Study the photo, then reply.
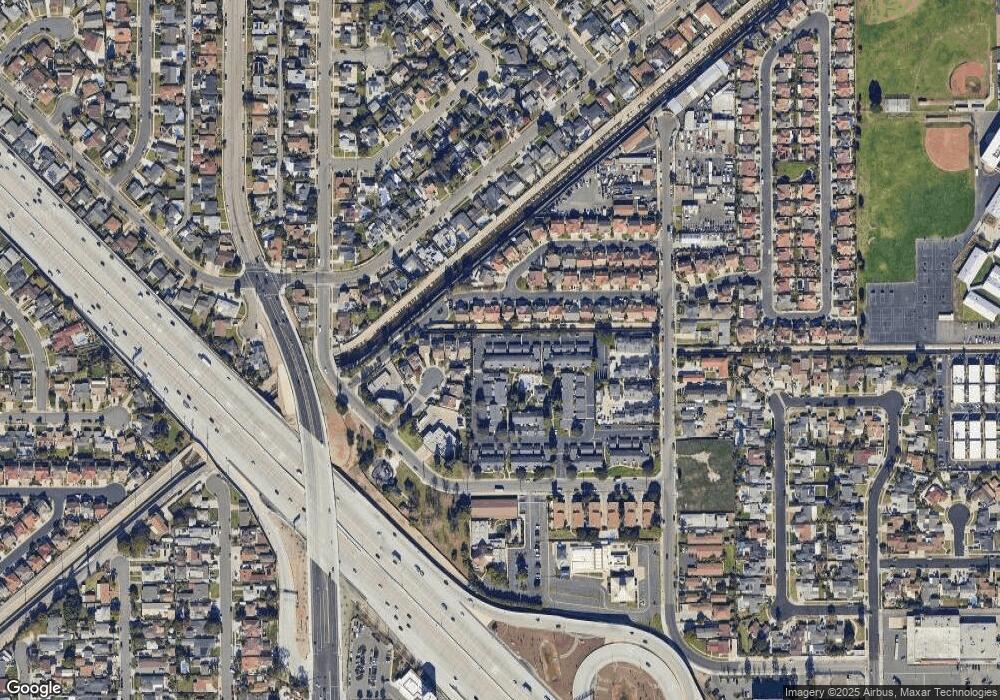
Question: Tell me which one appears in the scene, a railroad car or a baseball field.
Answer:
baseball field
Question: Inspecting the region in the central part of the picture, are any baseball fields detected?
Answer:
No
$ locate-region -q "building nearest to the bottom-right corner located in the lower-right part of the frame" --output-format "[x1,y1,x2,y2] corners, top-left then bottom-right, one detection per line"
[961,625,997,664]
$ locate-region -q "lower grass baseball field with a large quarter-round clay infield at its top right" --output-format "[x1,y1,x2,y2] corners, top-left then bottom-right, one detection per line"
[862,112,976,282]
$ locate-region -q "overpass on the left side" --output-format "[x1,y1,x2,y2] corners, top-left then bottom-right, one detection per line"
[296,402,339,587]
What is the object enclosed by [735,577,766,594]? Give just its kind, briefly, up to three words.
house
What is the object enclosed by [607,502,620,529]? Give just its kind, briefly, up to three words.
house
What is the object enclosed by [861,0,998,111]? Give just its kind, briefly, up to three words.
baseball field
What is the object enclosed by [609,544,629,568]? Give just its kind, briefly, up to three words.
building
